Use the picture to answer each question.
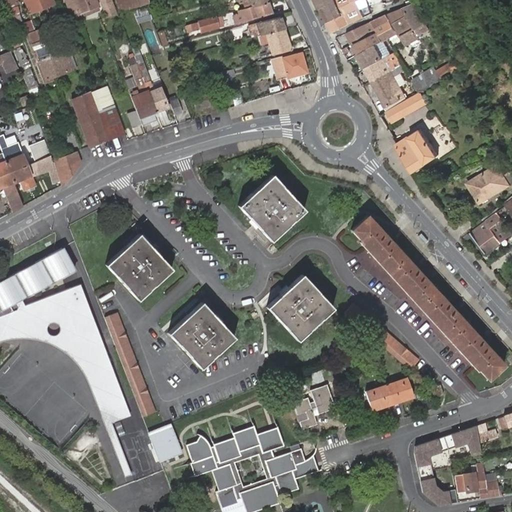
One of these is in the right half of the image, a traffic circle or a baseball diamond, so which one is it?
traffic circle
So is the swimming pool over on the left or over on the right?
left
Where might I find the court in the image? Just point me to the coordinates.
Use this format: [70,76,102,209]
[0,352,88,444]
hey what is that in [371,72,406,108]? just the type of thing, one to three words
house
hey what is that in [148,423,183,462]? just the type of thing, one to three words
building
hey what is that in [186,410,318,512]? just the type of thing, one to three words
building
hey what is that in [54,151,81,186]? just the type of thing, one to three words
house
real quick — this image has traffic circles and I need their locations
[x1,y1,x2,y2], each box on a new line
[303,94,374,164]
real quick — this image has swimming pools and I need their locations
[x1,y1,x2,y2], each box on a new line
[140,20,163,56]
